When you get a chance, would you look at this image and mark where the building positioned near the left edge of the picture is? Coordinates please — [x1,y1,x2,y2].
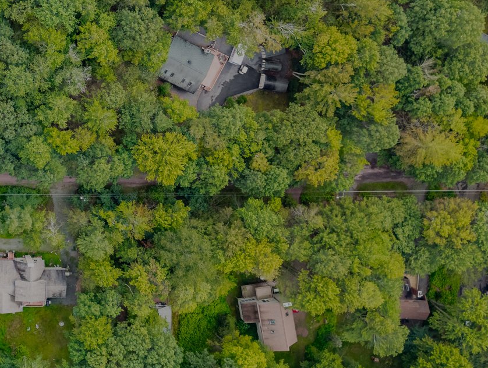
[0,251,70,316]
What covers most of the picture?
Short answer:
trees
